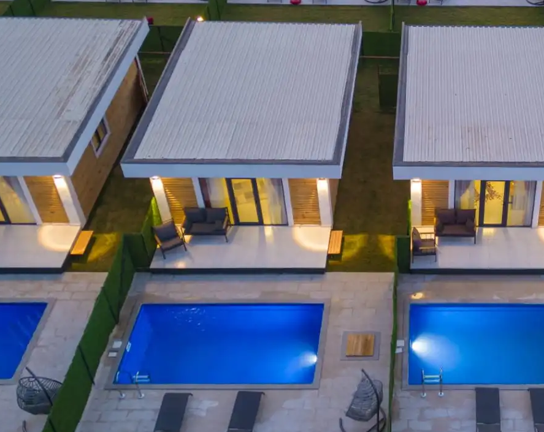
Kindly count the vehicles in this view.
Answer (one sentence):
The picture shows no vehicles.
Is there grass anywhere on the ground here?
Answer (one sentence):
Yes, there is grass in the image.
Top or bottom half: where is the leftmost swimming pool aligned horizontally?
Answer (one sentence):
You can find the leftmost swimming pool aligned horizontally in the bottom half.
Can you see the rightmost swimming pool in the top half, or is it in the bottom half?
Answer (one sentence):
You can find the rightmost swimming pool in the bottom half.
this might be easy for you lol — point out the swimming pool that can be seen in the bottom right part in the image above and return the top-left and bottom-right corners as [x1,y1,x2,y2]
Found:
[399,298,544,392]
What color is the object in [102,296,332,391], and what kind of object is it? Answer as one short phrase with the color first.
blue swimming pool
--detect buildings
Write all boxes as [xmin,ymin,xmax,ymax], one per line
[392,21,544,276]
[0,16,150,273]
[124,18,361,275]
